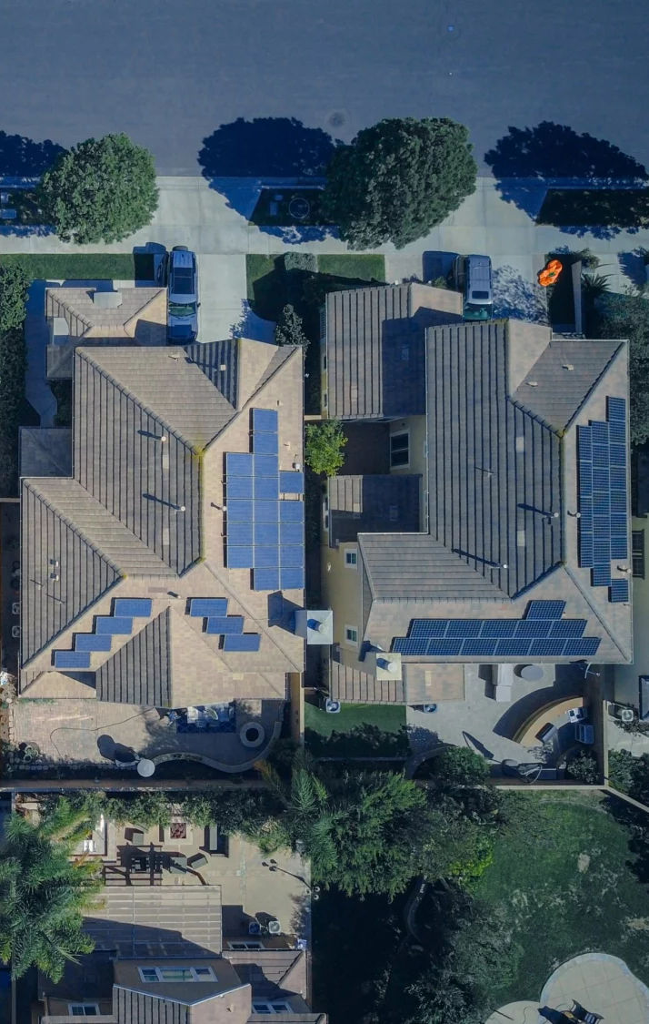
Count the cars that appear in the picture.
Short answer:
two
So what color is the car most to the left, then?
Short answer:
blue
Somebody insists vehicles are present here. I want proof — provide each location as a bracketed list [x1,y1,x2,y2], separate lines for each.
[446,255,495,323]
[159,242,204,345]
